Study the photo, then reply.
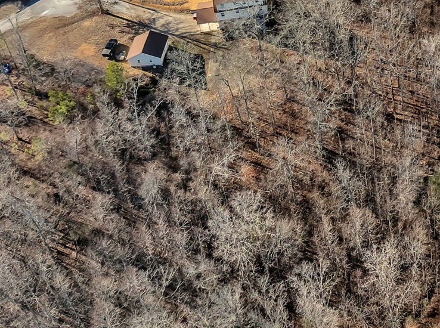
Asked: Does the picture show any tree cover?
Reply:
Yes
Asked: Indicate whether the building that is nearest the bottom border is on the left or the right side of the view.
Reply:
left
